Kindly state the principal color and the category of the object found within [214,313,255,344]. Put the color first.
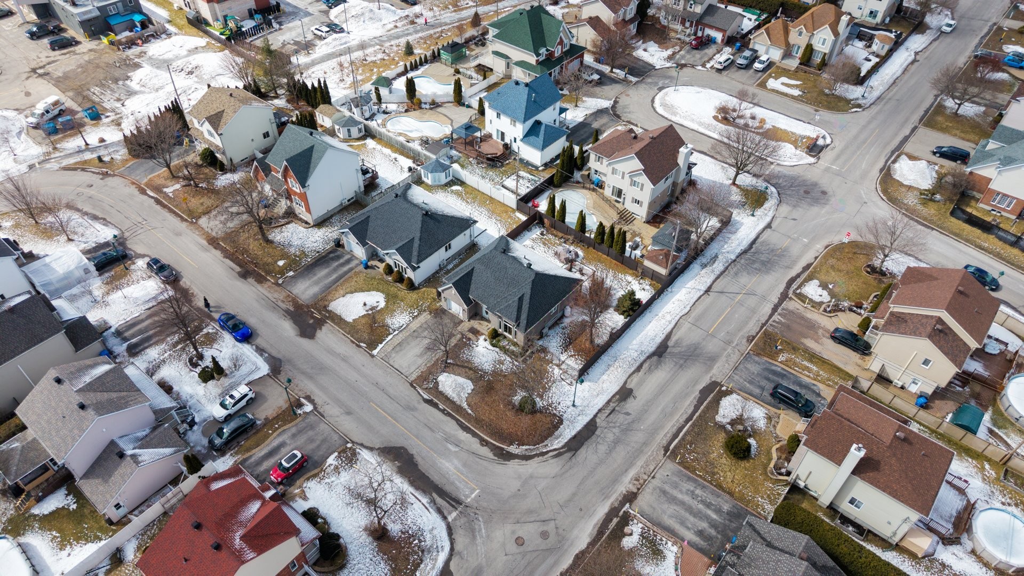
blue car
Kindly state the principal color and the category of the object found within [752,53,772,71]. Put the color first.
white car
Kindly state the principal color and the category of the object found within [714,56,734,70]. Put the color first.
white car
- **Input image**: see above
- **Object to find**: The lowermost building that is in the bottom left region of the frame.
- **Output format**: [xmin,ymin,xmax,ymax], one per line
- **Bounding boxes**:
[112,463,330,576]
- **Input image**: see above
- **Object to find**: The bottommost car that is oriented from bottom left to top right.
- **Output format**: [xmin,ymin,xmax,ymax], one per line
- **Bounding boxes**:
[267,448,312,485]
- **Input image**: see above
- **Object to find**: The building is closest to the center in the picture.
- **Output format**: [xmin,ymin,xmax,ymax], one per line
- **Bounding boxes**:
[438,236,584,352]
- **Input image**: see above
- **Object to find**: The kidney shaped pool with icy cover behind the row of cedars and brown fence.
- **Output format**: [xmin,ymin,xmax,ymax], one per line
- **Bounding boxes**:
[551,187,598,231]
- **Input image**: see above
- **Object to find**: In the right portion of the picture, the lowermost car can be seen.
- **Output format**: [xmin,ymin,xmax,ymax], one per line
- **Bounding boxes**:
[768,381,818,419]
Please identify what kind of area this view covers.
residential area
